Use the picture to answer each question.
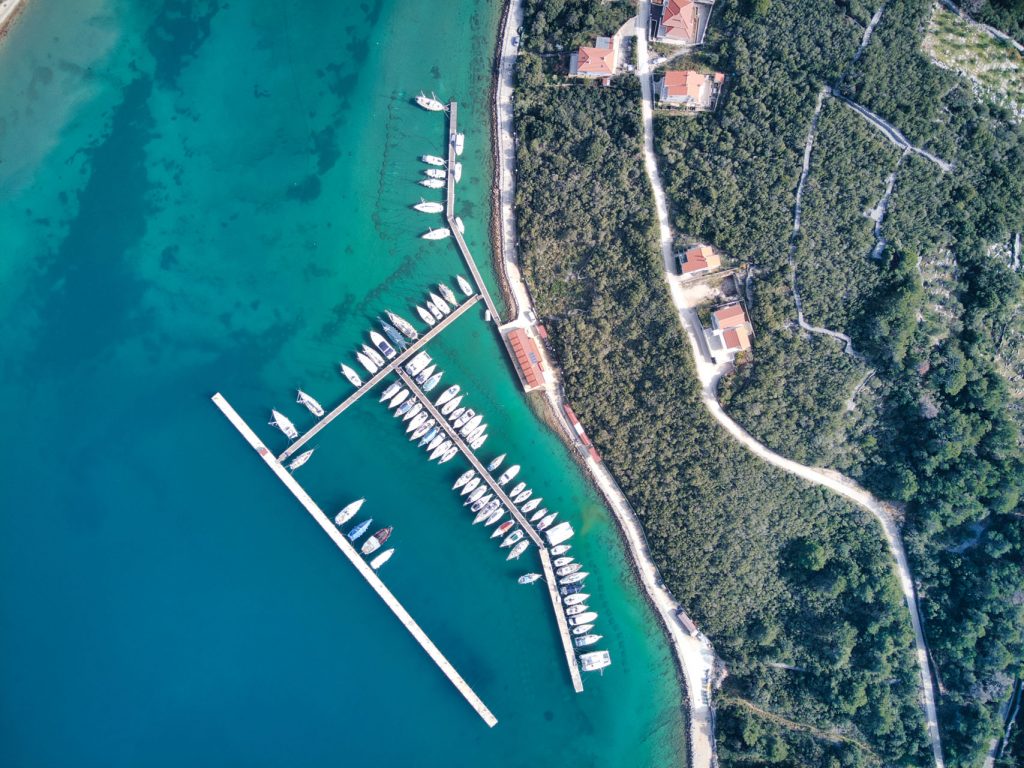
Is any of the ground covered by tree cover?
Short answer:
Yes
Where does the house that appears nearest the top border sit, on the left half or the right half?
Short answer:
right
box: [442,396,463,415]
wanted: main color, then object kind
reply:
white boat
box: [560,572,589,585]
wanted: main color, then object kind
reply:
white boat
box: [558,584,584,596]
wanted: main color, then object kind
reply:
blue boat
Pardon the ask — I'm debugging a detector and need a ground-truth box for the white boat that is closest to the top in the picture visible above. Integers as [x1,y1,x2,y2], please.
[414,92,451,112]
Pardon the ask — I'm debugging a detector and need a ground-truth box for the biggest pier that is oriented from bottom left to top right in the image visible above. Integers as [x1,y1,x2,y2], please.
[284,295,479,461]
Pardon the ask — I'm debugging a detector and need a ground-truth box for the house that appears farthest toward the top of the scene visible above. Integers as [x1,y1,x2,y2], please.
[657,0,700,46]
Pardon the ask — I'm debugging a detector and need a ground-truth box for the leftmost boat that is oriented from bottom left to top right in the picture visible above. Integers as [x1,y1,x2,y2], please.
[291,450,313,474]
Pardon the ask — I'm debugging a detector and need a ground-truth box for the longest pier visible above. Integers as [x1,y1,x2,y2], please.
[211,392,498,727]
